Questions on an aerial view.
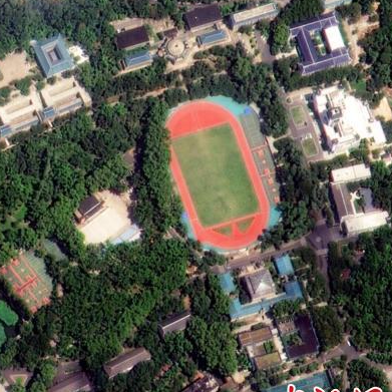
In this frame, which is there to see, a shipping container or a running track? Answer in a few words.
running track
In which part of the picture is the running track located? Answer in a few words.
center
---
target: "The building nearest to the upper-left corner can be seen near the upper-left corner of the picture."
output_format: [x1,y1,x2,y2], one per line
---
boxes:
[34,34,75,79]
